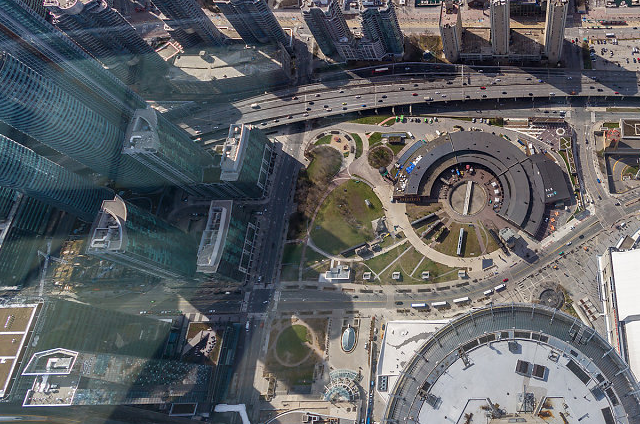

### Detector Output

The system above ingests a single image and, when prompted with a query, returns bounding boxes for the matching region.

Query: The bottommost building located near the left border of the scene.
[20,374,197,406]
